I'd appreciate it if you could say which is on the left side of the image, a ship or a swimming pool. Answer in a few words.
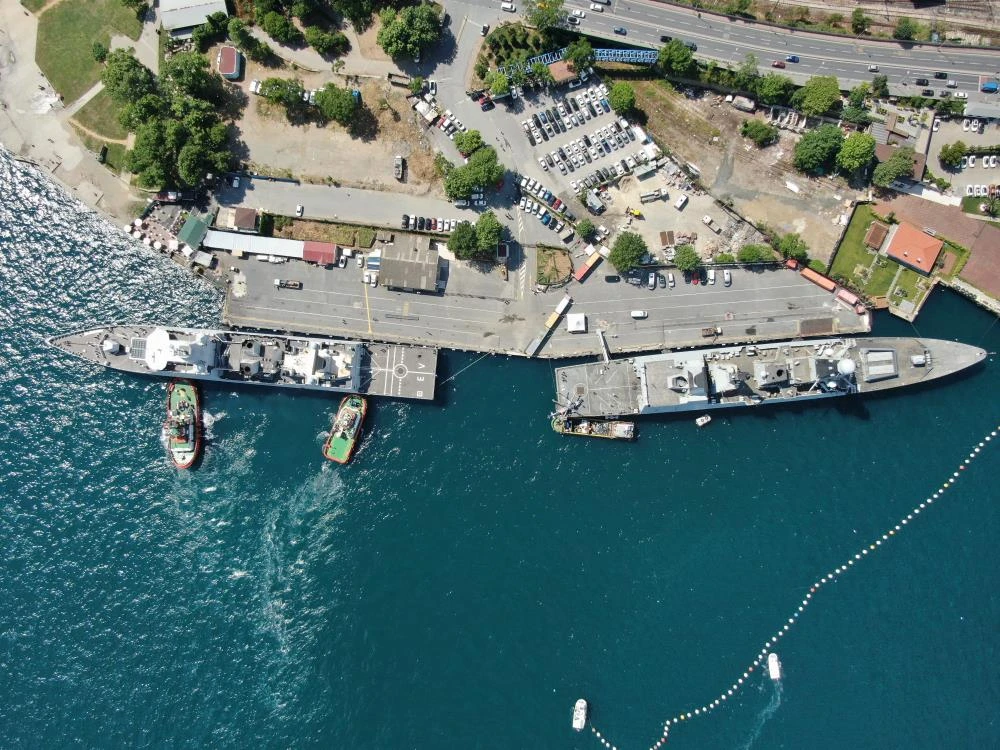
ship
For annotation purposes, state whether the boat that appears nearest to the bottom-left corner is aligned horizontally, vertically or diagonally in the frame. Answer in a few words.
vertically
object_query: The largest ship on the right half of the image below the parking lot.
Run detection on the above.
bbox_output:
[554,337,994,419]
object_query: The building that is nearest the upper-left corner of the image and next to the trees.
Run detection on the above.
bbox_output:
[160,0,233,38]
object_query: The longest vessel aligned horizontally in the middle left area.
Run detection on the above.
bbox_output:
[45,324,439,401]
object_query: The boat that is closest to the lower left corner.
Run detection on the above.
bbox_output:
[165,378,201,469]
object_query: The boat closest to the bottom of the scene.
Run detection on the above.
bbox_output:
[572,697,587,732]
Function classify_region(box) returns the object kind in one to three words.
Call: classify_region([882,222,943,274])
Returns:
house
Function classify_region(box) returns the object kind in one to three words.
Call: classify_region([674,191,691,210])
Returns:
vehicle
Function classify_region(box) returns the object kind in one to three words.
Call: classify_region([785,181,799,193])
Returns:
vehicle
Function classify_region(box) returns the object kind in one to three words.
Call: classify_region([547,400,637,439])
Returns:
ship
